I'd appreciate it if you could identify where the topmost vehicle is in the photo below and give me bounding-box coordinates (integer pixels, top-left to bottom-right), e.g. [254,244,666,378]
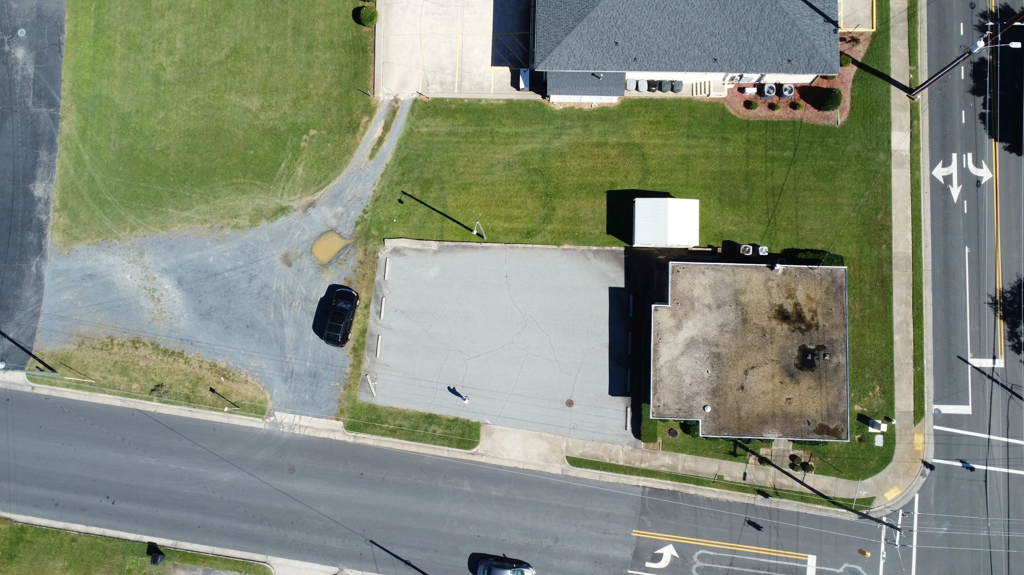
[319,285,357,349]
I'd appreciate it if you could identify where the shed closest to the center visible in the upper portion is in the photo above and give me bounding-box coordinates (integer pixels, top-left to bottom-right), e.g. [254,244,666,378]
[633,196,699,248]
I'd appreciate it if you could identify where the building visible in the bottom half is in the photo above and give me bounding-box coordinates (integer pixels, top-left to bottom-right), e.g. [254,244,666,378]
[648,262,849,441]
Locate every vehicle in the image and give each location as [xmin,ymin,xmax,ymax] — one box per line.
[476,558,538,575]
[319,285,357,349]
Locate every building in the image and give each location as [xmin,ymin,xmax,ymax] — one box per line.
[648,262,849,441]
[633,196,699,248]
[534,0,841,84]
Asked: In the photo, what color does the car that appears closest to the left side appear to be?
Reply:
black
